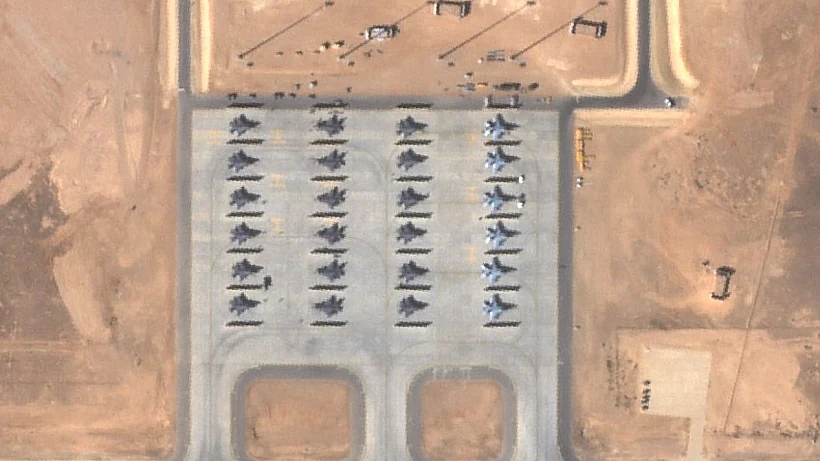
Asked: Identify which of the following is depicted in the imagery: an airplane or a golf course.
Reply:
airplane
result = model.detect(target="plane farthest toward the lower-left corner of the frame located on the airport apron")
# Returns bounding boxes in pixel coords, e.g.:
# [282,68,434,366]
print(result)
[229,298,255,315]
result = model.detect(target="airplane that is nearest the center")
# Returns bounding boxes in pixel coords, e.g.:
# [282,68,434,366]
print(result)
[397,225,423,243]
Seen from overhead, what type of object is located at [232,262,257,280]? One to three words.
airplane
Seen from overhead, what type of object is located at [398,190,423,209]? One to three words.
airplane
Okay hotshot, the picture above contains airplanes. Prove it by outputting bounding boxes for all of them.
[397,153,423,170]
[231,190,255,208]
[396,118,422,136]
[484,117,517,139]
[317,226,343,244]
[229,154,255,172]
[398,190,423,209]
[481,263,514,284]
[399,299,424,316]
[397,225,423,243]
[232,262,257,280]
[317,263,343,280]
[317,190,343,208]
[317,153,342,171]
[399,263,424,281]
[483,298,516,319]
[485,150,518,171]
[484,190,517,211]
[230,118,255,135]
[316,299,341,316]
[231,226,257,245]
[316,118,341,135]
[486,225,518,247]
[229,298,255,315]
